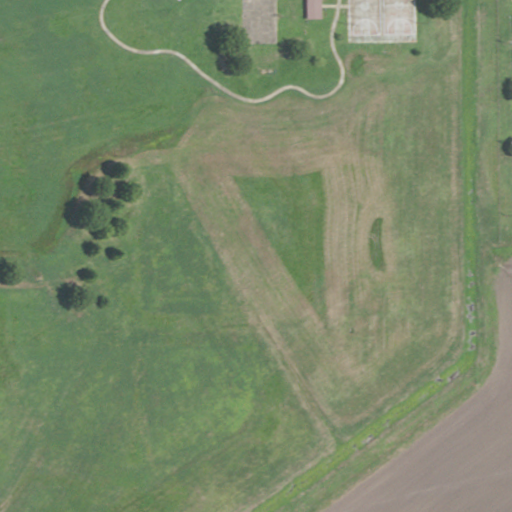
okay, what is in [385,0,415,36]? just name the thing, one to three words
basketball court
